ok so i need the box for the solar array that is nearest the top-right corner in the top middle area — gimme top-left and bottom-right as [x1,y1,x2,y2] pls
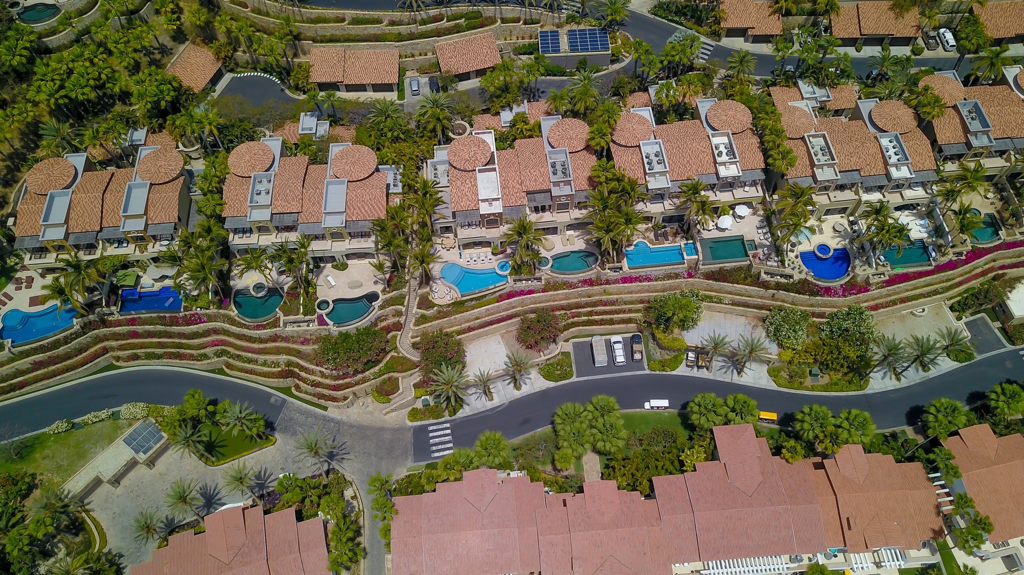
[568,28,609,52]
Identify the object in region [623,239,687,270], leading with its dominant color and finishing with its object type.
blue swimming pool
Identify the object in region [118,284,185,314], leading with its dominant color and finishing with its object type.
blue swimming pool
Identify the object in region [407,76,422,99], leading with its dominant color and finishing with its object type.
gray car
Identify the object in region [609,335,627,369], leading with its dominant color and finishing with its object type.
white car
